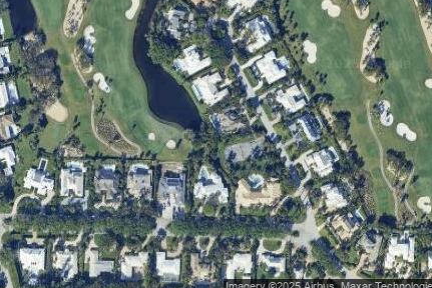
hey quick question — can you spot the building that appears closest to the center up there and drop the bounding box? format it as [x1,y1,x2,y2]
[219,109,241,131]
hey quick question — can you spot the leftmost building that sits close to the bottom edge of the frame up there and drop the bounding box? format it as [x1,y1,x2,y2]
[20,246,46,278]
